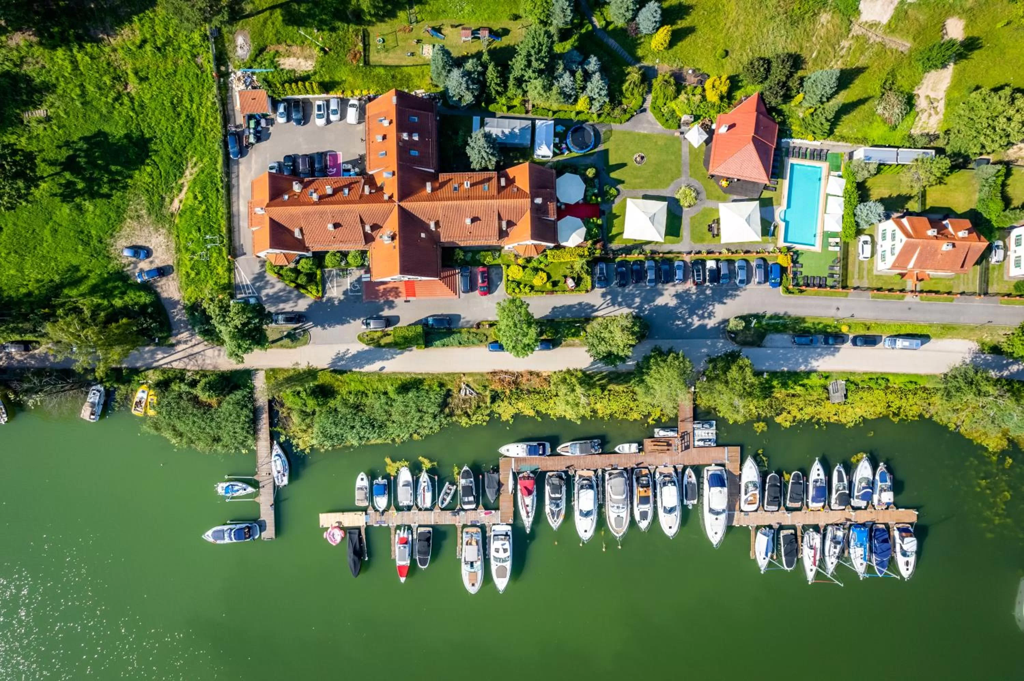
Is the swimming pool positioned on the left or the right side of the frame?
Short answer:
right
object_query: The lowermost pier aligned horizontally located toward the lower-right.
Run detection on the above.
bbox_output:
[733,509,917,526]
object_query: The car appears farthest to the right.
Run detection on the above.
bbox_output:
[988,237,1007,267]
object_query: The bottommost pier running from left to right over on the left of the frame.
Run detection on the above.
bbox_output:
[319,510,500,528]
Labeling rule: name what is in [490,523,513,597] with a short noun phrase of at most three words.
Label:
boat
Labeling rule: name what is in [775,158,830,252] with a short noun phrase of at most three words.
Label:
swimming pool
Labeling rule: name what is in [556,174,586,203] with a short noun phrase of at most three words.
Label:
umbrella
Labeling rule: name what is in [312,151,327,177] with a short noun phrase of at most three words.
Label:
car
